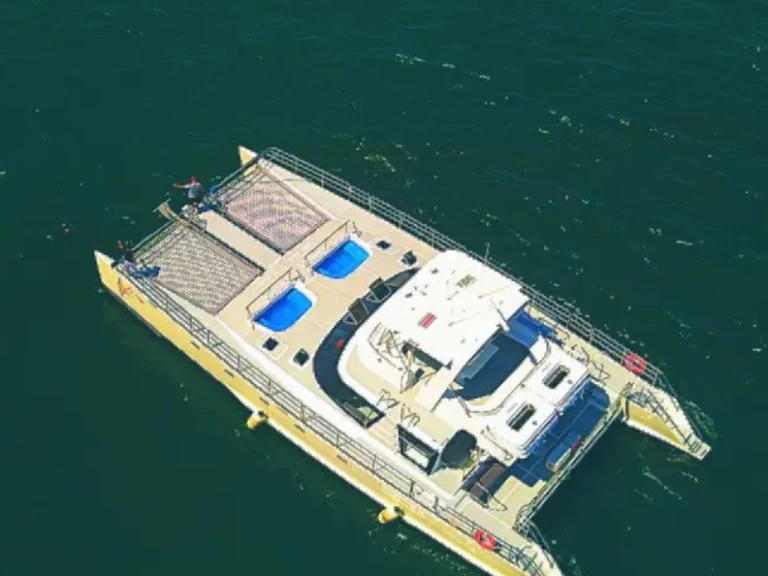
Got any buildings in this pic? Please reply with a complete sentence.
No, the photo shows no building.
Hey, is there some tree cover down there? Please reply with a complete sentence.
No, there's no tree cover in this view.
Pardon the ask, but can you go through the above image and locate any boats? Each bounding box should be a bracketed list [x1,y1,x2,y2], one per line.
[97,144,712,576]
